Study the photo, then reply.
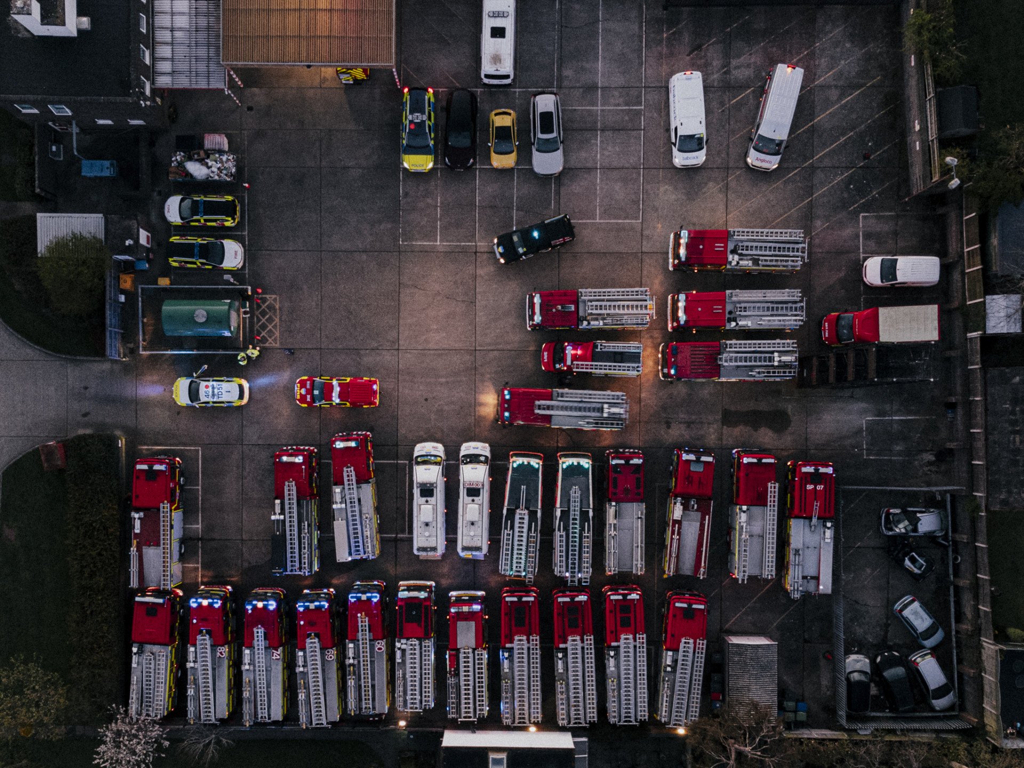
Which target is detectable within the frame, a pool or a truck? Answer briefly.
truck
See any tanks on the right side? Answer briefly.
No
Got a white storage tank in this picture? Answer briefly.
No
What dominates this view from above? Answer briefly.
paved ground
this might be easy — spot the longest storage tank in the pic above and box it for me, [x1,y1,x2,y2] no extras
[155,301,240,336]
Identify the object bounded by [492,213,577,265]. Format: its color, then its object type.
black truck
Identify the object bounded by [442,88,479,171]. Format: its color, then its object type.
black car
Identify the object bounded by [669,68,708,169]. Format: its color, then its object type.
white van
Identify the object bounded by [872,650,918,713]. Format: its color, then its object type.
black car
